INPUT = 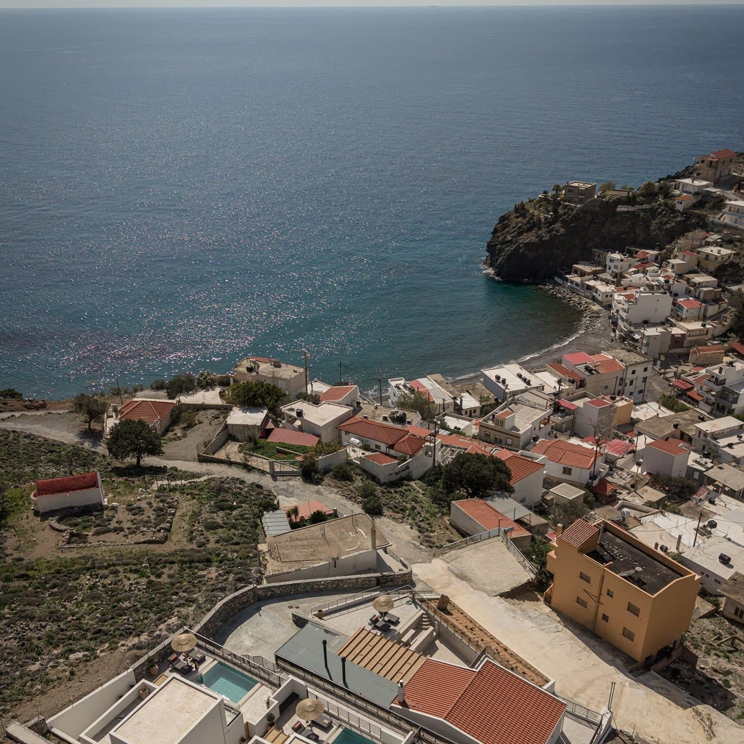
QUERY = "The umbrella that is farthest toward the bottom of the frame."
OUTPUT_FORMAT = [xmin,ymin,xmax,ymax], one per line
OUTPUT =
[296,696,326,728]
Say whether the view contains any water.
Yes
